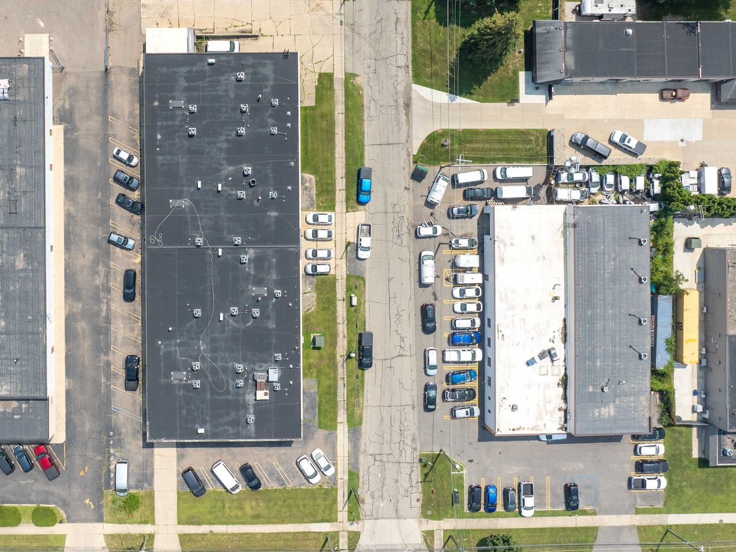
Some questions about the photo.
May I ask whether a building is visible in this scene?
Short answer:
Yes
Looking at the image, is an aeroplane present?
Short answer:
No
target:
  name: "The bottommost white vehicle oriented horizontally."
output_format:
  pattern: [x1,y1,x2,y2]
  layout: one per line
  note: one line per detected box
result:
[629,475,666,491]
